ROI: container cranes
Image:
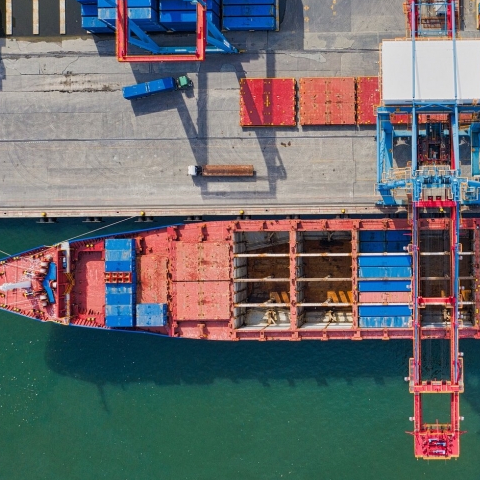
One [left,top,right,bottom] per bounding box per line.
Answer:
[373,0,480,464]
[116,0,248,64]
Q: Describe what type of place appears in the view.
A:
port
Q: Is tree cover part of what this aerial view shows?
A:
No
